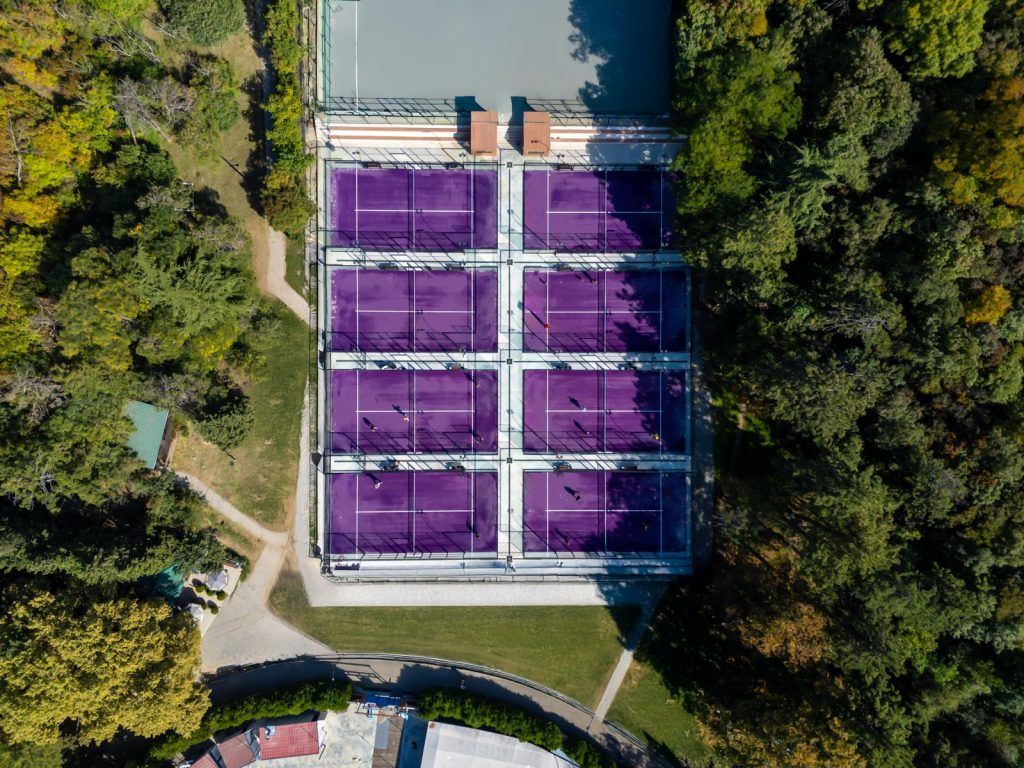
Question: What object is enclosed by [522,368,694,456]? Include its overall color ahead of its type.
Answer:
purple sports court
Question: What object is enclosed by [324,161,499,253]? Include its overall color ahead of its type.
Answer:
purple sports court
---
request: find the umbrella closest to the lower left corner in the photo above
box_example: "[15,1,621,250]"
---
[190,602,208,618]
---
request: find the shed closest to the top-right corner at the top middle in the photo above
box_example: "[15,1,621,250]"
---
[523,111,551,158]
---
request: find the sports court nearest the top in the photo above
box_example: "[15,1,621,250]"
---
[331,0,674,118]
